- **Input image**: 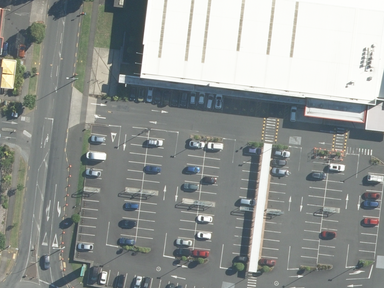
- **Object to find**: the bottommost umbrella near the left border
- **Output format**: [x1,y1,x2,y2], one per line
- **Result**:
[0,74,15,89]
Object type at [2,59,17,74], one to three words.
umbrella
